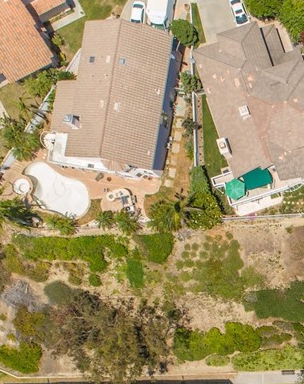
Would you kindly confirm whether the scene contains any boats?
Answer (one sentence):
No, there's no boat here.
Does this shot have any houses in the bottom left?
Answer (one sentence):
No, I can find no house in the bottom left.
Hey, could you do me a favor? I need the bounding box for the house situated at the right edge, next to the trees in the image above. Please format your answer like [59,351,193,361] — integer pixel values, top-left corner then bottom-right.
[193,21,304,210]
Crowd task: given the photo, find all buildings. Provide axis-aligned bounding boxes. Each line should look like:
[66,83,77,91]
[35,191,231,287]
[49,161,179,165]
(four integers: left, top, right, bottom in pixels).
[0,0,73,84]
[44,18,183,179]
[193,21,304,210]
